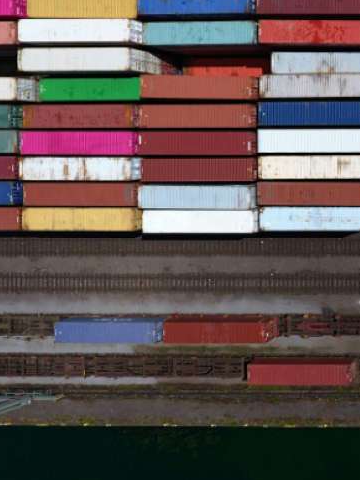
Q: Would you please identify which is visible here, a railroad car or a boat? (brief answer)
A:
railroad car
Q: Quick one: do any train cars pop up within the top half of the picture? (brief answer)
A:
No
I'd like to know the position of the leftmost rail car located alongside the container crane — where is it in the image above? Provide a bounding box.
[0,355,85,377]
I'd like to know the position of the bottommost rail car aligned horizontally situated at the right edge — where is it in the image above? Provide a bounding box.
[243,356,357,375]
